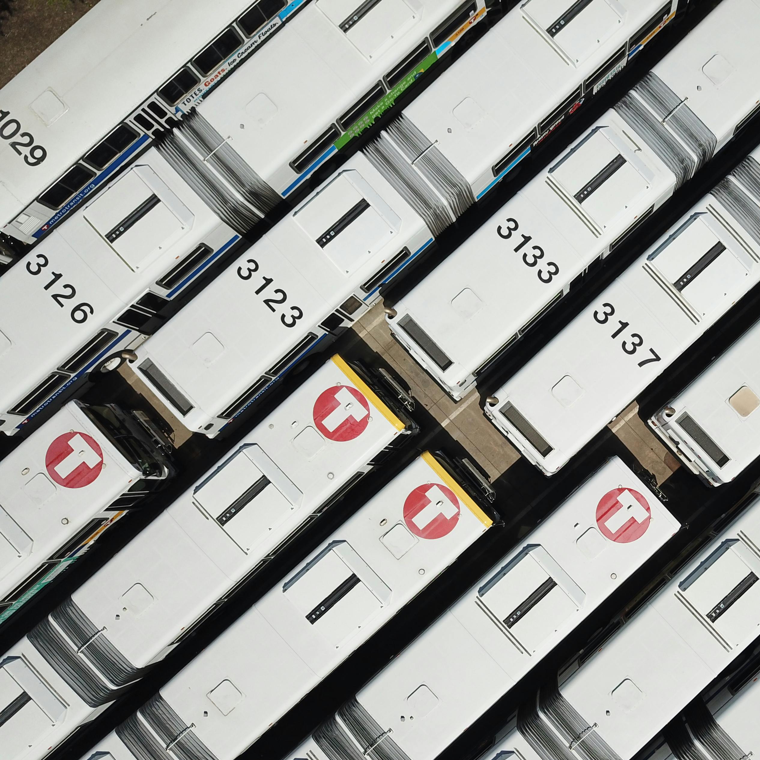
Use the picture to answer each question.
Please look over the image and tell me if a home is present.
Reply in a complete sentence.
No, there appears to be no home in this shot.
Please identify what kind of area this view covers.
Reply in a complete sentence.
The area seen from above is a parking lot.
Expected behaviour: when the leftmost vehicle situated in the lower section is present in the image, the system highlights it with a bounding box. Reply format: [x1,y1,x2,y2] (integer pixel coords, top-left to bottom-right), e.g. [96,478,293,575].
[0,389,186,631]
